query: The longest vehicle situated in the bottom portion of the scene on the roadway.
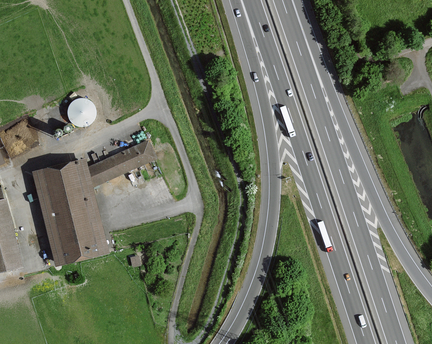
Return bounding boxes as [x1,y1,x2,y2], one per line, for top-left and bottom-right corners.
[316,220,336,252]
